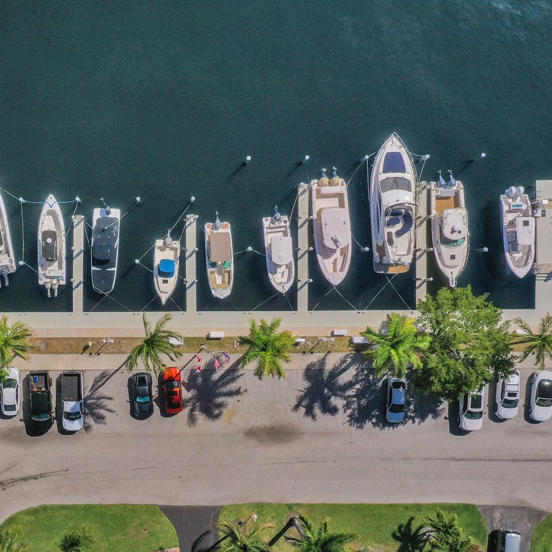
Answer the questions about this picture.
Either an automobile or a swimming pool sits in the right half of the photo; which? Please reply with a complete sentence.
What appears in the right half of the photo is an automobile.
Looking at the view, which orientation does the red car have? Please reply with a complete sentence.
Seen from above, the red car lies up and down.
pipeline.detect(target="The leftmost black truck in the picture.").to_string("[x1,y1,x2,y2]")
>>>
[26,370,53,434]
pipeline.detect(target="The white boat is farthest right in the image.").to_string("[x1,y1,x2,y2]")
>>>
[497,183,535,279]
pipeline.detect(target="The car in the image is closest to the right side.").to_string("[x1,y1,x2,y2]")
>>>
[528,369,552,421]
